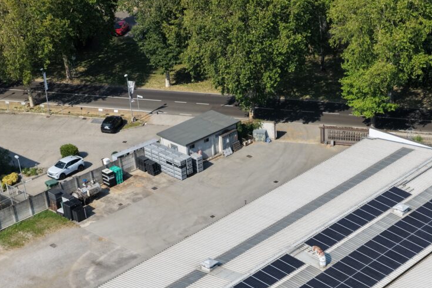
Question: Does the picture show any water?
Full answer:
No, the scene doesn't show any water.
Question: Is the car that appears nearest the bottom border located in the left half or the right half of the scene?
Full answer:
The car that appears nearest the bottom border appears in the left half of the scene.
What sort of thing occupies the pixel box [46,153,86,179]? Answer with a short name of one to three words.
car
